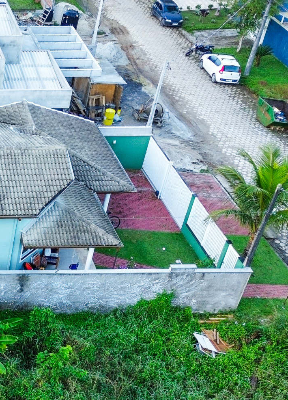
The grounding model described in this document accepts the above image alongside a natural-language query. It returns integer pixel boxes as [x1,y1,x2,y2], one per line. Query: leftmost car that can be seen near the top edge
[150,0,186,24]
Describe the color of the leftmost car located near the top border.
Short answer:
blue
